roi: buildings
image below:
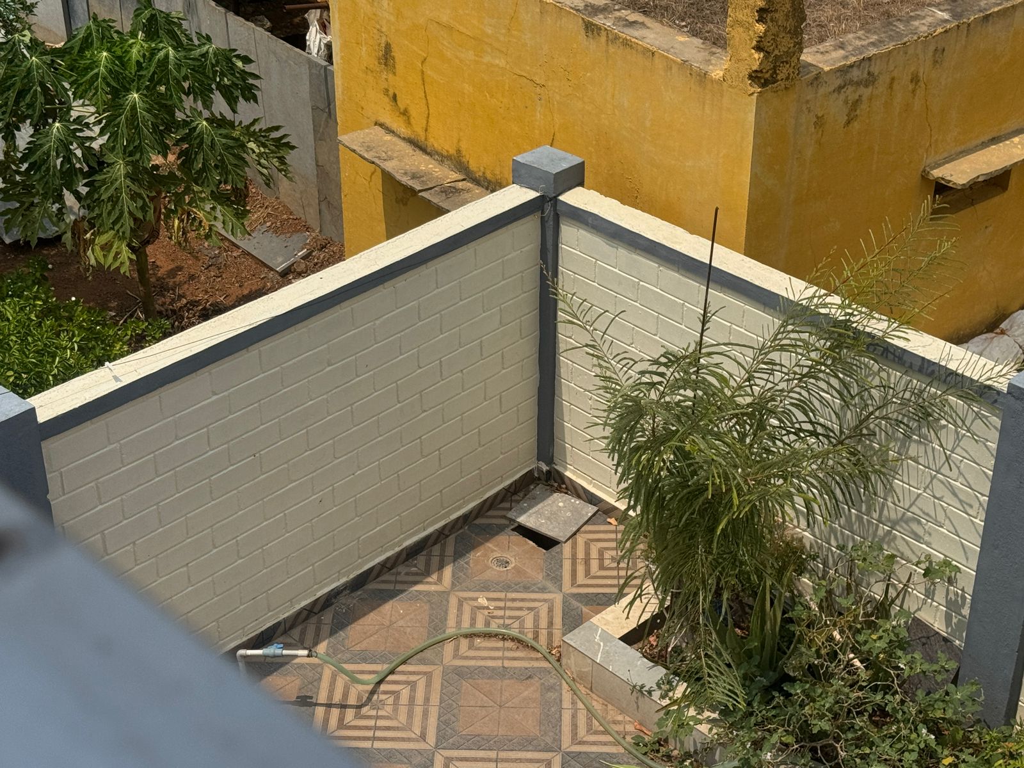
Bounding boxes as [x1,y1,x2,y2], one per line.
[334,0,1024,339]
